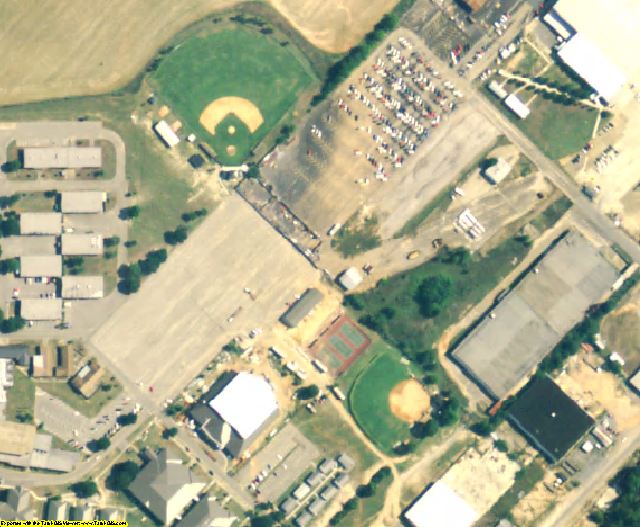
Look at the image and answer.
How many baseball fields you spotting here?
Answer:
2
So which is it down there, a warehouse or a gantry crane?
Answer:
warehouse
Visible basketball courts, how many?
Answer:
none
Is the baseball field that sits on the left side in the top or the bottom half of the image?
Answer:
top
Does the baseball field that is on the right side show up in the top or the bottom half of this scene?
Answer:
bottom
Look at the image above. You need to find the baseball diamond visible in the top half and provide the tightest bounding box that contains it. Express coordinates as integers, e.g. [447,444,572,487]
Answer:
[153,26,312,166]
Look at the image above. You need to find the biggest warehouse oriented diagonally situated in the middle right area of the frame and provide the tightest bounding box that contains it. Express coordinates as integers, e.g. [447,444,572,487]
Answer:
[452,231,621,399]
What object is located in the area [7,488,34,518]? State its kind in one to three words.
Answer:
house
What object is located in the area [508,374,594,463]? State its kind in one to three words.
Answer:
building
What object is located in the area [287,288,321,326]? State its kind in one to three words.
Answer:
shed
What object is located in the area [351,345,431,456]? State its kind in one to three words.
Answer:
baseball field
